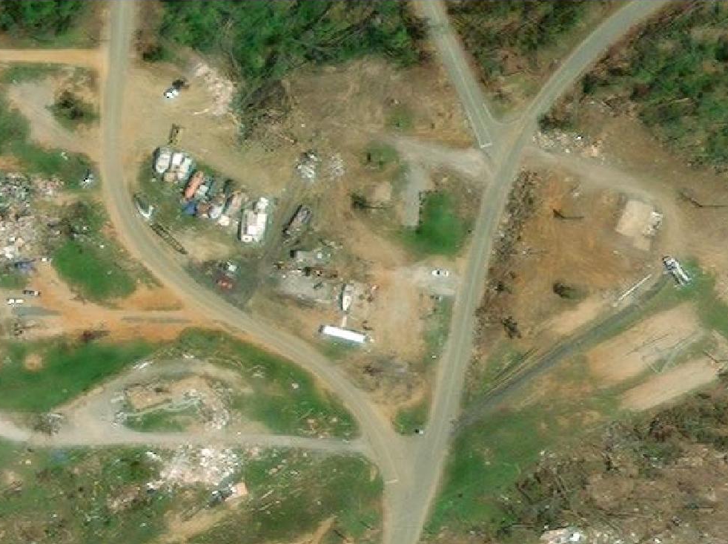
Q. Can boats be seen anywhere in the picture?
Yes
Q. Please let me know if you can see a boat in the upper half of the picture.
Yes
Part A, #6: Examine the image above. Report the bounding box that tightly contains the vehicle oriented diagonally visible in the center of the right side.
[666,257,687,284]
